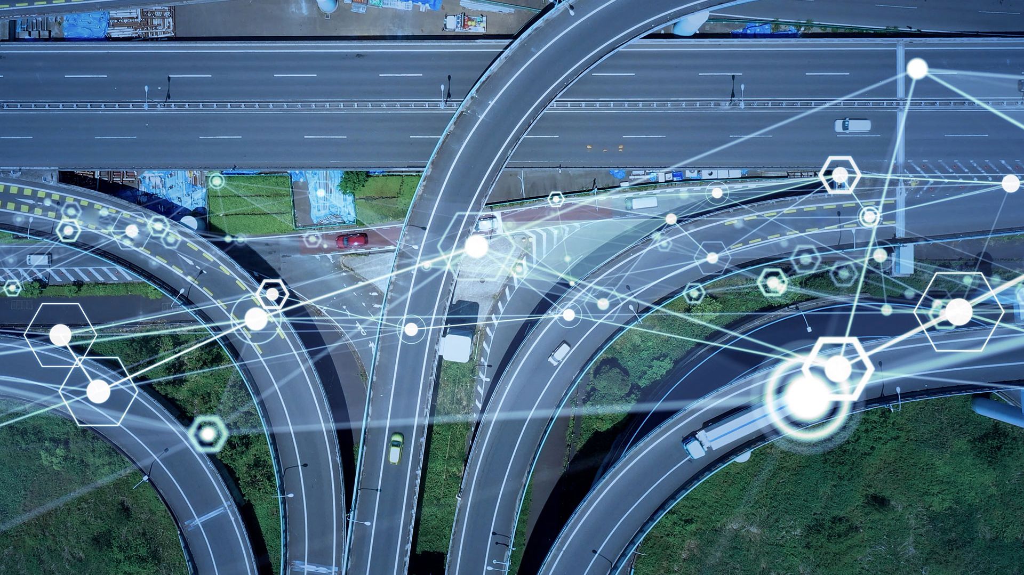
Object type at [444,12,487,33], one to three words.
truck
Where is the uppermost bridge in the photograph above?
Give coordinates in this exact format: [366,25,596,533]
[0,37,1024,238]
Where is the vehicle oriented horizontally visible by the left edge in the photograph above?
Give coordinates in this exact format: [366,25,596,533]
[26,253,53,266]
